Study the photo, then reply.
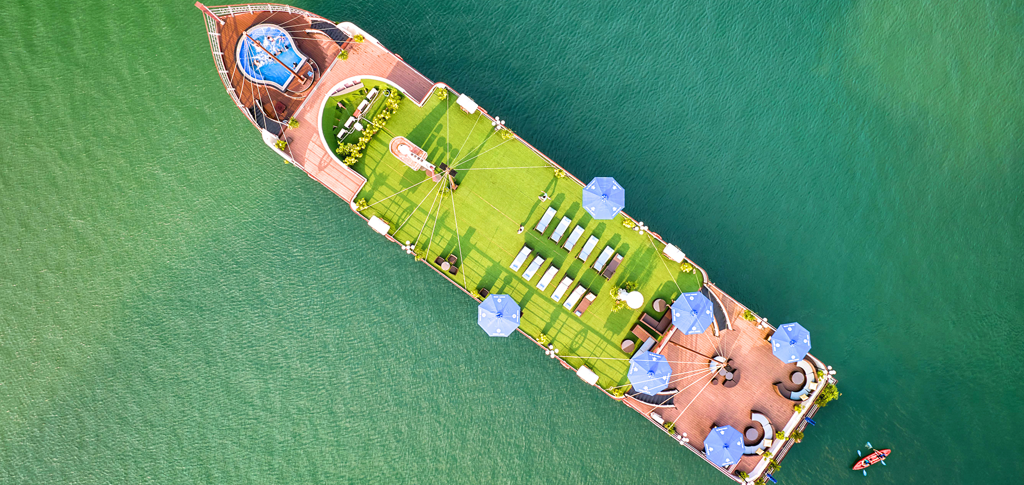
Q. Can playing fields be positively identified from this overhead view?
No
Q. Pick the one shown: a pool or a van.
pool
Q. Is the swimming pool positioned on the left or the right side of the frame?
left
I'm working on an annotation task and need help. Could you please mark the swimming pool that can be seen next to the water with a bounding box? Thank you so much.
[235,22,320,99]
